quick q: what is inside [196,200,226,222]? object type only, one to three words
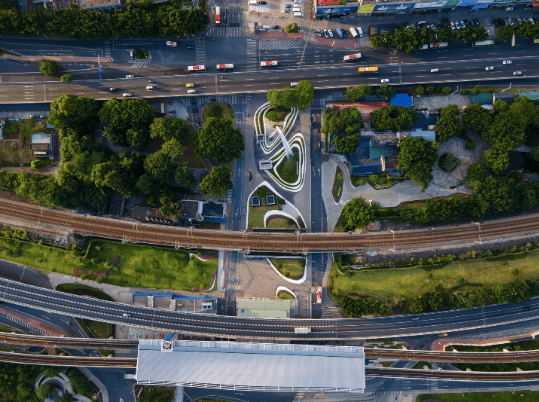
house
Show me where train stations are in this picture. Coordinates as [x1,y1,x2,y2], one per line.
[135,336,366,393]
